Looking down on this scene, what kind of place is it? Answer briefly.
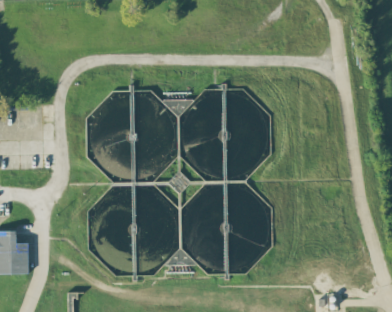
industrial area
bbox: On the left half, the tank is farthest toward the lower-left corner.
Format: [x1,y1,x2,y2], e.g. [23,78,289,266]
[88,183,180,280]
